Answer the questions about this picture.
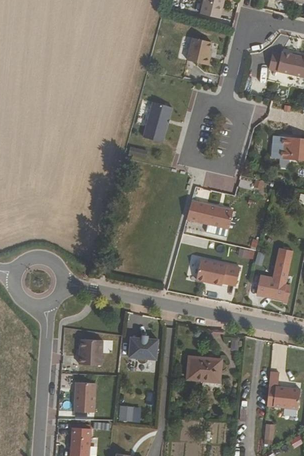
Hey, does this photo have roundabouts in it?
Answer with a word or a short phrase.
Yes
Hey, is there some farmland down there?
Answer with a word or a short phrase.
Yes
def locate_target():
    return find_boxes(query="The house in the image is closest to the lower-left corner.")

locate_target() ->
[70,428,92,456]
